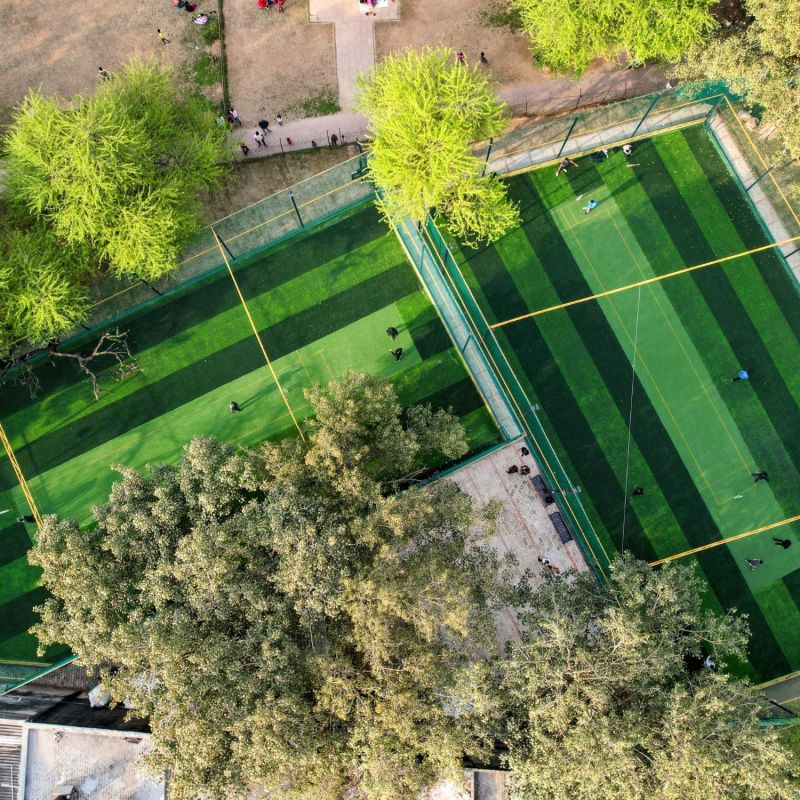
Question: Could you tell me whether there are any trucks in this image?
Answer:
No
